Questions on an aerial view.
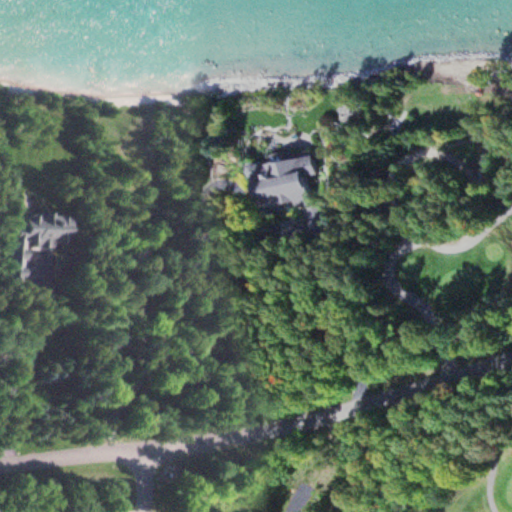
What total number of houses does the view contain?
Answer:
2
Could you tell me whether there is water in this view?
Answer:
Yes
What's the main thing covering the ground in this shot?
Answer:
trees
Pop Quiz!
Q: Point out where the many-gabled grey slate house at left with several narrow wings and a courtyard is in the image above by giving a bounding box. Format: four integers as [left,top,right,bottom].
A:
[18,213,79,280]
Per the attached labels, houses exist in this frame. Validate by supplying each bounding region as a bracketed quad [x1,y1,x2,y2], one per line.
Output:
[254,152,319,208]
[18,213,79,280]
